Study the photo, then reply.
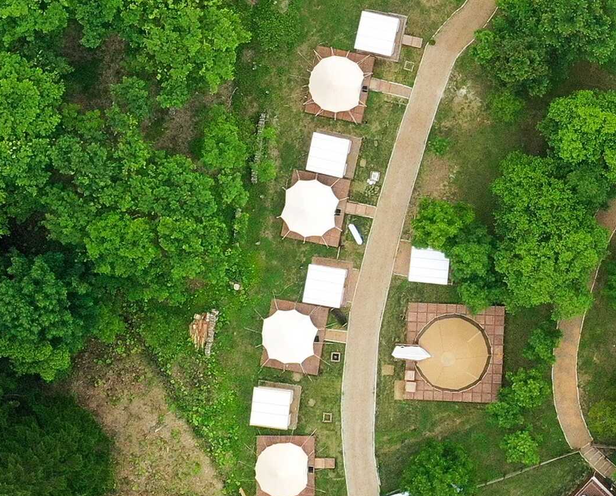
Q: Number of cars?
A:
0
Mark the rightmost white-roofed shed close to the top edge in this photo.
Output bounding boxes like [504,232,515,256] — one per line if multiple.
[354,11,407,61]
